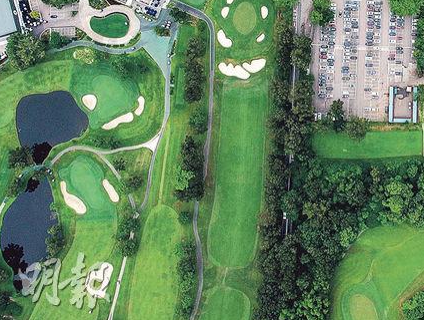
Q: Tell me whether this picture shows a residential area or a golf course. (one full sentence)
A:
What you see here is a golf course.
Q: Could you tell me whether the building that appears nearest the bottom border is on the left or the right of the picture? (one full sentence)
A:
The building that appears nearest the bottom border appears in the right half of the scene.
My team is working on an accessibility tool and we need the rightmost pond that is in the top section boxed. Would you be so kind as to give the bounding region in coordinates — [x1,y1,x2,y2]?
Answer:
[16,91,87,162]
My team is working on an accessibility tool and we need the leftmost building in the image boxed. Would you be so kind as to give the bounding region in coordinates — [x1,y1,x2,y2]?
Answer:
[0,0,31,53]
